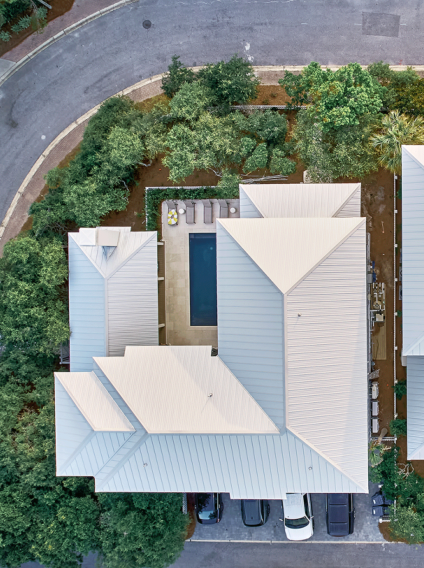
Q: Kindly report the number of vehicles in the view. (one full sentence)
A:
The count of vehicles comes to 4.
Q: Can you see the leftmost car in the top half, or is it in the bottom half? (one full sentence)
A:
Seen from above, the leftmost car lies in the bottom half of the view.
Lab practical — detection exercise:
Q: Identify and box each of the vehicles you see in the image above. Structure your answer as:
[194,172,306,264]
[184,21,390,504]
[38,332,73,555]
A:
[280,493,315,540]
[325,493,356,539]
[192,493,222,525]
[240,500,271,527]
